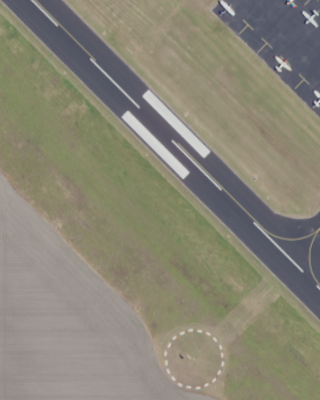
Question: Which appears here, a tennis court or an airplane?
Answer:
airplane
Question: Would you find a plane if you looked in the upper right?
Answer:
Yes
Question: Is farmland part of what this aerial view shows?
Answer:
Yes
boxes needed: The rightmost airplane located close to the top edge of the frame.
[302,10,320,27]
